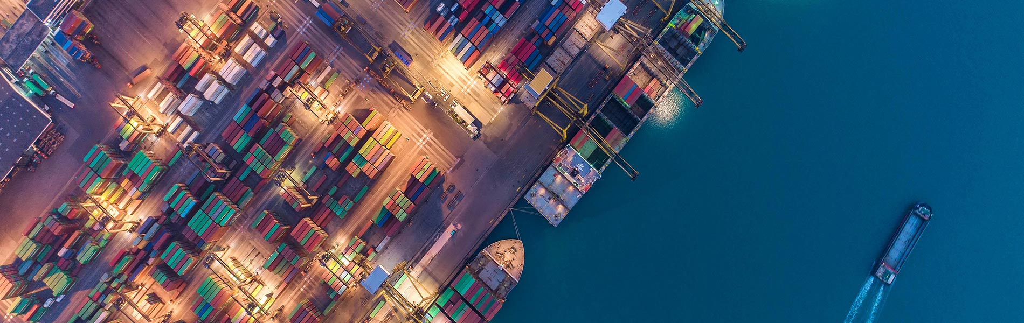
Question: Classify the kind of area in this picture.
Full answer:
The picture captures a port.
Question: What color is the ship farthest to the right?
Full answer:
The color of the ship farthest to the right is blue.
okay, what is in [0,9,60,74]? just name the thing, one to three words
building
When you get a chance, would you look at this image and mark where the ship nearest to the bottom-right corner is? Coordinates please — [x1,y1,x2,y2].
[870,202,927,284]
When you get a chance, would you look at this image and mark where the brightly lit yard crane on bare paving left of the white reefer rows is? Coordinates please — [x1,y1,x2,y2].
[108,93,168,137]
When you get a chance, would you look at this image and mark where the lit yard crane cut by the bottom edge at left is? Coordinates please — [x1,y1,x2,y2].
[115,289,171,323]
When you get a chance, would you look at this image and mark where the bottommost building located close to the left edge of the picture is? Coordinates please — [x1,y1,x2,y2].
[0,66,61,183]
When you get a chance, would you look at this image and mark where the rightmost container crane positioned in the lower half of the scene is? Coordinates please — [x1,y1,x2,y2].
[364,252,450,323]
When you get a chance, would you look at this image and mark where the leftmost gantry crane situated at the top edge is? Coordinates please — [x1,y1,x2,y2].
[176,14,232,60]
